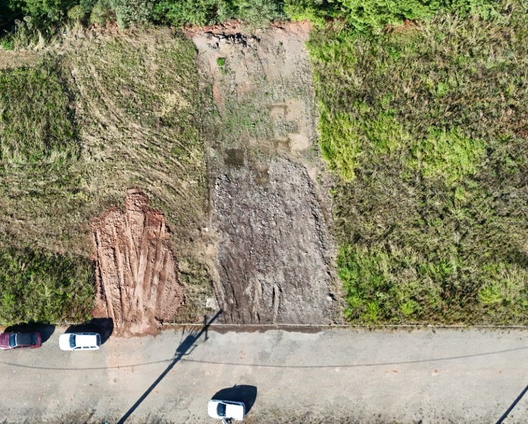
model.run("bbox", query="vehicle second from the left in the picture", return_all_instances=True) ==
[58,332,100,350]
